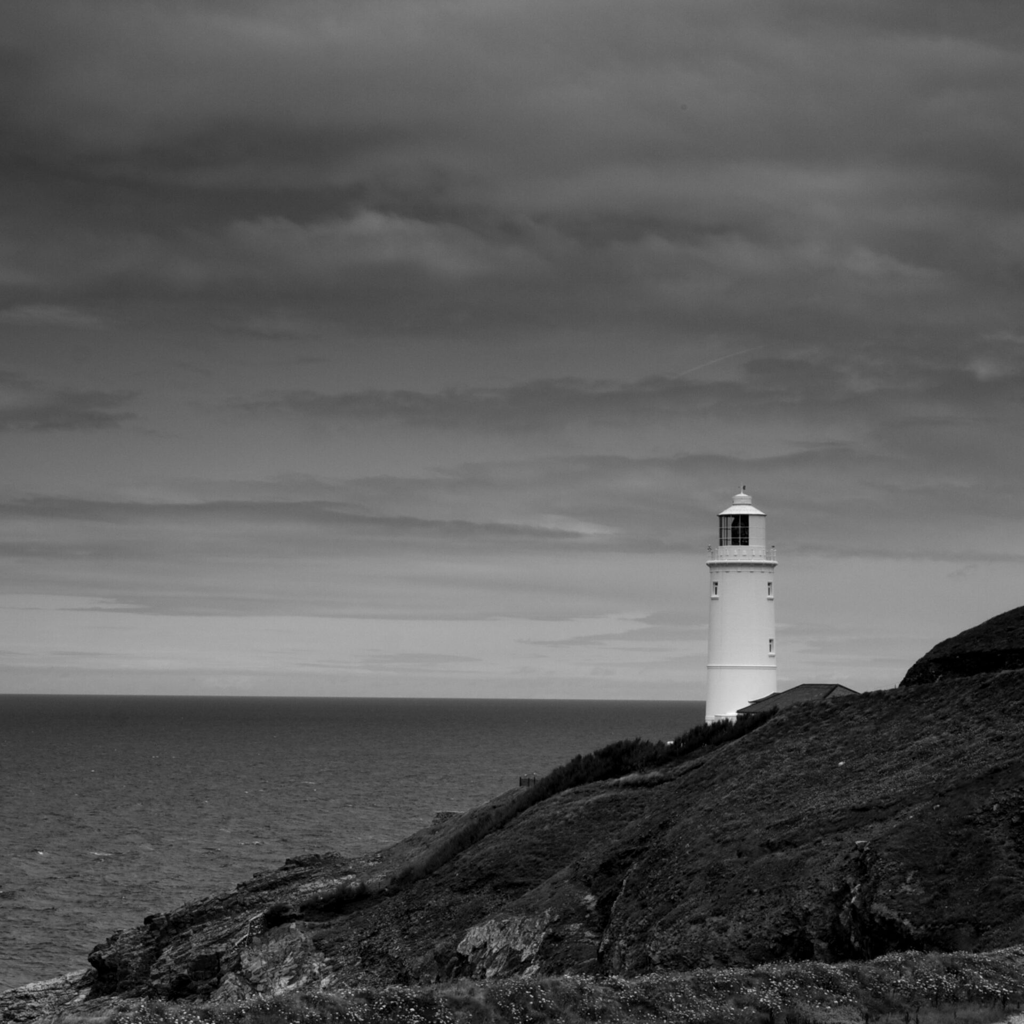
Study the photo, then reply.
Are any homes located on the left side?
No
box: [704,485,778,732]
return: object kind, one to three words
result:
lighthouse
